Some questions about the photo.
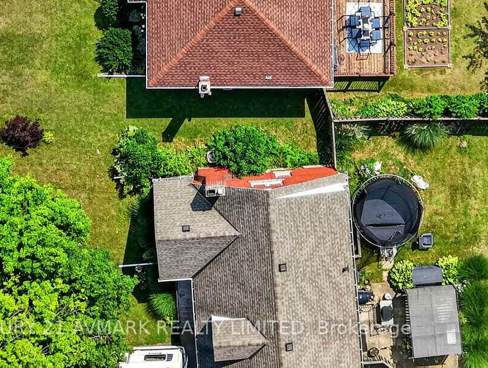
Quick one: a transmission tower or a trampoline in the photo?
trampoline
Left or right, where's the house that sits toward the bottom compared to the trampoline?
on the left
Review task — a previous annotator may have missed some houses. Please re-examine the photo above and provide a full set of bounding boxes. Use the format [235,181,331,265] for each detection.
[154,161,364,368]
[131,0,334,94]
